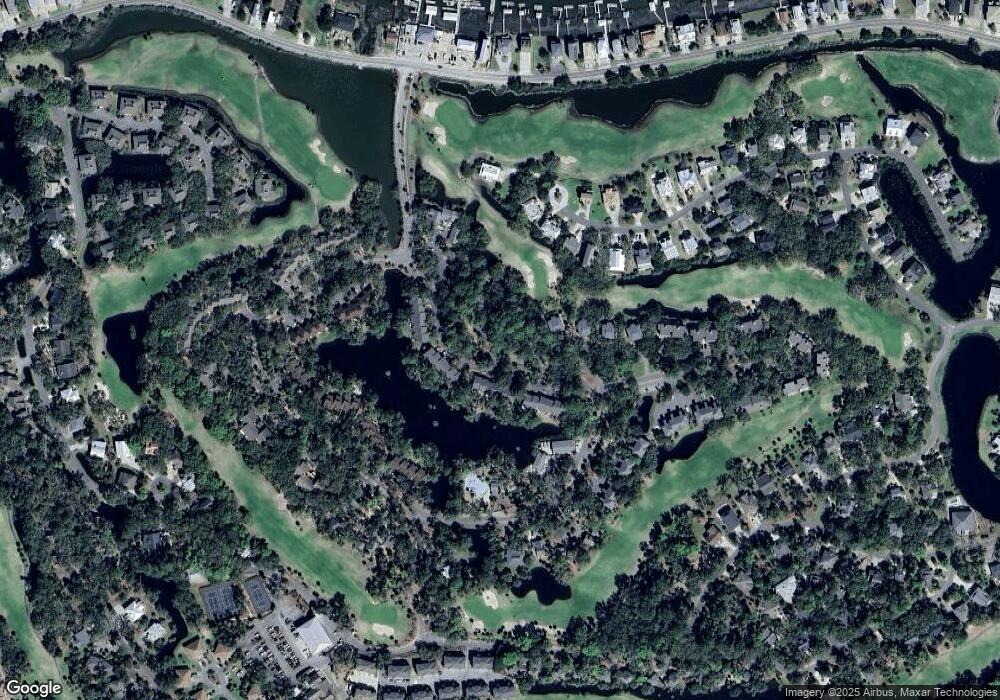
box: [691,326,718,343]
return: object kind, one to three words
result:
house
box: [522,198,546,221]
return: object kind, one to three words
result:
house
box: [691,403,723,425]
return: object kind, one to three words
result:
building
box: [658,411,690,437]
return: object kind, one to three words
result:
building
